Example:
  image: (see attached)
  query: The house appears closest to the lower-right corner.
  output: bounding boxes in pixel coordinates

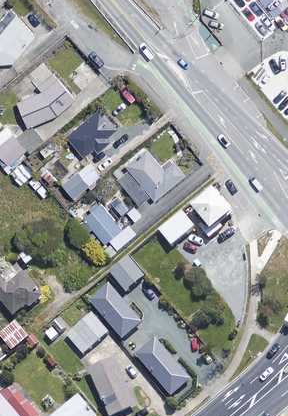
[136,338,190,395]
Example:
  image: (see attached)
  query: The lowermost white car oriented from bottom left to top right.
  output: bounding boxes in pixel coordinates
[259,367,274,382]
